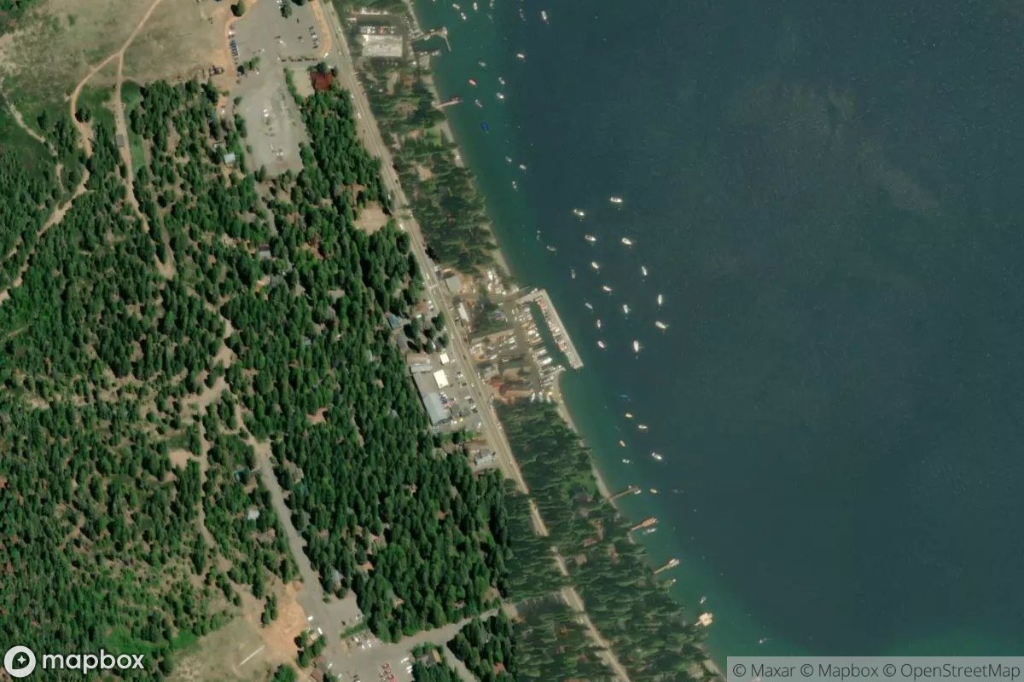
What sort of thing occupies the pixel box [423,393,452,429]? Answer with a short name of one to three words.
building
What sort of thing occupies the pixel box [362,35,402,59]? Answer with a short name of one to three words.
building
